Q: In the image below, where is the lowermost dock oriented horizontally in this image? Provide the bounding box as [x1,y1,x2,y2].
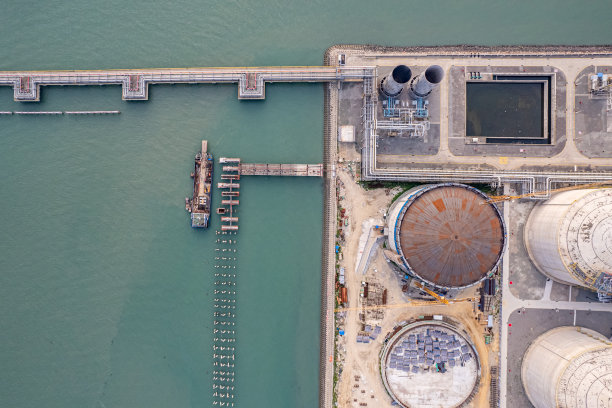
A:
[241,164,331,176]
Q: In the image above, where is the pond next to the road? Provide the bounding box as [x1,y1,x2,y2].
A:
[464,73,557,146]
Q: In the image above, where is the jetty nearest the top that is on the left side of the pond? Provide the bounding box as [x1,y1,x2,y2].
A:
[0,66,338,102]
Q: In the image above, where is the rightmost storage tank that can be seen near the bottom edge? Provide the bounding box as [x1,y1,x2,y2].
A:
[524,325,612,408]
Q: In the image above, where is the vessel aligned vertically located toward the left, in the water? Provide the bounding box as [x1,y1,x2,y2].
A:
[188,140,219,228]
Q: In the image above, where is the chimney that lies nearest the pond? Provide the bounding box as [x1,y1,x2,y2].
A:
[409,65,444,100]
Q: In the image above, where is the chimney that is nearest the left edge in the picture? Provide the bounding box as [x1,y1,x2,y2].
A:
[380,65,412,100]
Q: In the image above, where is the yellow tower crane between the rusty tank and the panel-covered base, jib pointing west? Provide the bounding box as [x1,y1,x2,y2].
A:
[333,279,484,314]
